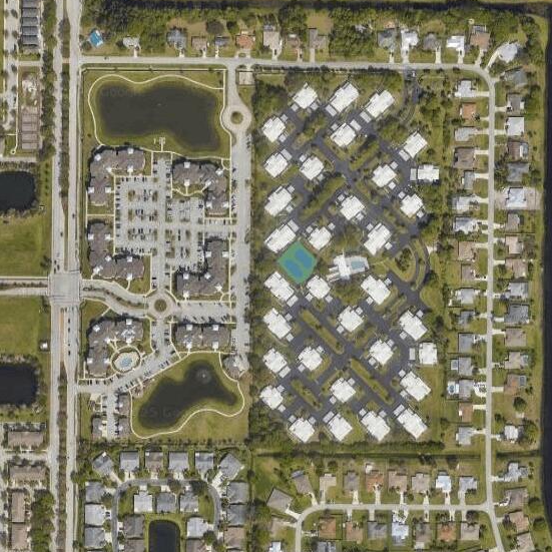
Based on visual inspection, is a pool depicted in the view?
Yes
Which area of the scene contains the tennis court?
center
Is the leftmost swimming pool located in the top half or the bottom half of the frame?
bottom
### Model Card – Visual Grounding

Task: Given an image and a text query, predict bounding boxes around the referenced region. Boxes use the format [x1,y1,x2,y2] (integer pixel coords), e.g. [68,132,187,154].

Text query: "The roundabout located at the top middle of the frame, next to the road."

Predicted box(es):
[223,104,251,132]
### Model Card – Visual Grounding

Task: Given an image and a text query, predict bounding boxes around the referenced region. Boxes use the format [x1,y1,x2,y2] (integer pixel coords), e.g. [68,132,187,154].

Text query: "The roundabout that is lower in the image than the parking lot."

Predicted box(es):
[147,291,176,320]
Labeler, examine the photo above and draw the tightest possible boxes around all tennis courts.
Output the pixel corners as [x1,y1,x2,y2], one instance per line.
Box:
[277,241,317,284]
